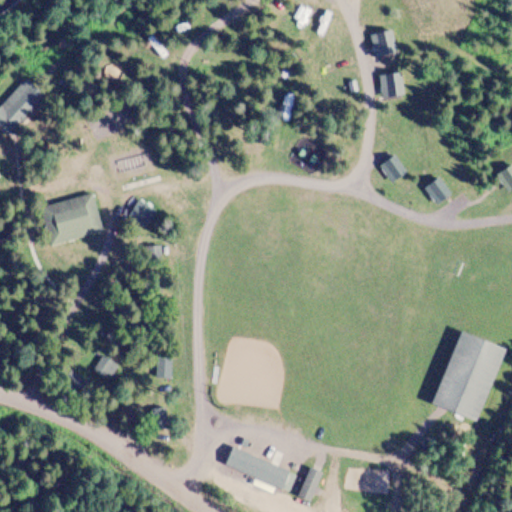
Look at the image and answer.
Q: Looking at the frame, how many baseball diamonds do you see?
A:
1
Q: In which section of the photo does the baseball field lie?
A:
bottom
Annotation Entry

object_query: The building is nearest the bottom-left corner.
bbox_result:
[94,354,120,378]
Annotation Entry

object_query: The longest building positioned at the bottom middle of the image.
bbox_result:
[228,448,296,492]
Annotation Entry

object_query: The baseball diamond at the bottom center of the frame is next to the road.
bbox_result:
[216,336,286,409]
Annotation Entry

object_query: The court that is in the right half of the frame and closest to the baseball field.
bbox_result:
[344,468,388,493]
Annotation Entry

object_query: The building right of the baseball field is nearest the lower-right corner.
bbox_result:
[434,332,506,421]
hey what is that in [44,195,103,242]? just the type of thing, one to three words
house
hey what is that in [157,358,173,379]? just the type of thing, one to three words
building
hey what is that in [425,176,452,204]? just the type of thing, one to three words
building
